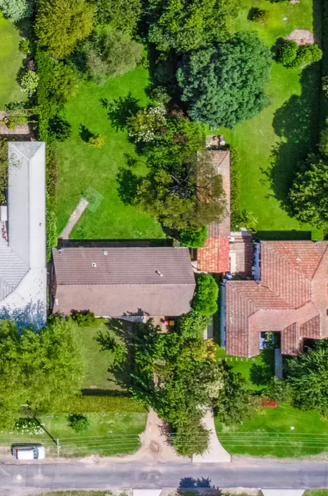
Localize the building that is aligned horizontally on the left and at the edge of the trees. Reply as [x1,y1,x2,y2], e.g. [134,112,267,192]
[50,246,196,316]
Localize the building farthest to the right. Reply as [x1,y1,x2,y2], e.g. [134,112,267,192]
[218,240,328,359]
